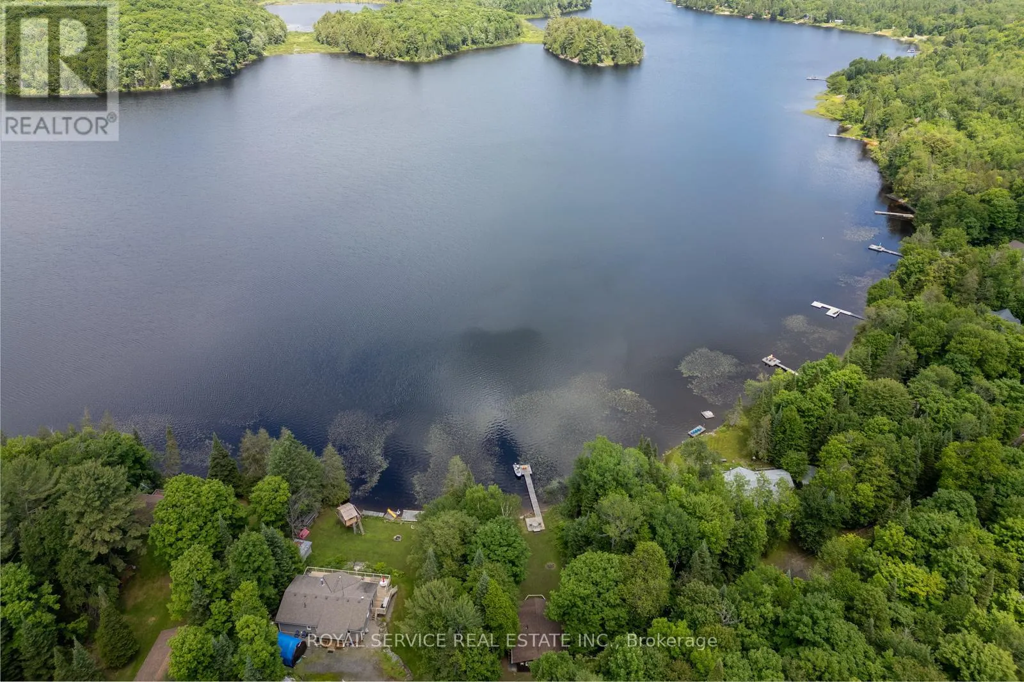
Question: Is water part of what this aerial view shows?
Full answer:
Yes, water can be seen from above here.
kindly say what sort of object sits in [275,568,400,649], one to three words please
house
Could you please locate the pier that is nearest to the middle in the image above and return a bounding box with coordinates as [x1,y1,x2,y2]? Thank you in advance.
[521,461,545,515]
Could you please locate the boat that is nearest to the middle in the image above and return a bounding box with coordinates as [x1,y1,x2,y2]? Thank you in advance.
[509,459,521,477]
